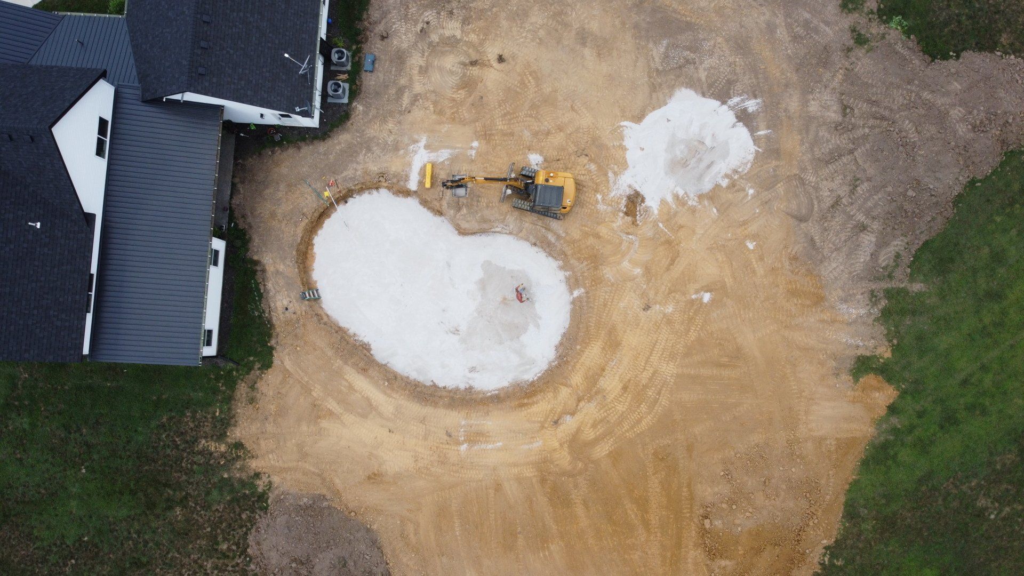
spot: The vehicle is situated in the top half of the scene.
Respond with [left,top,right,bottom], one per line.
[440,162,576,222]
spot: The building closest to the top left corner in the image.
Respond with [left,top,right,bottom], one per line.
[0,0,333,366]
